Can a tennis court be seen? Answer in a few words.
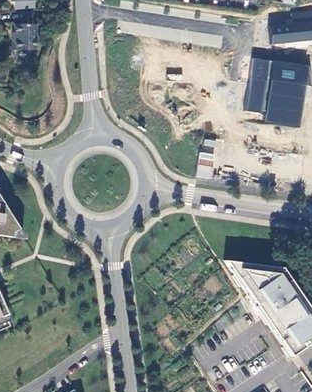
No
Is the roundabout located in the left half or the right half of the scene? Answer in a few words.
left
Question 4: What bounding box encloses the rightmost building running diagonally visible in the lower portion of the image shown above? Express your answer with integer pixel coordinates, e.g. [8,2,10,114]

[225,261,312,357]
